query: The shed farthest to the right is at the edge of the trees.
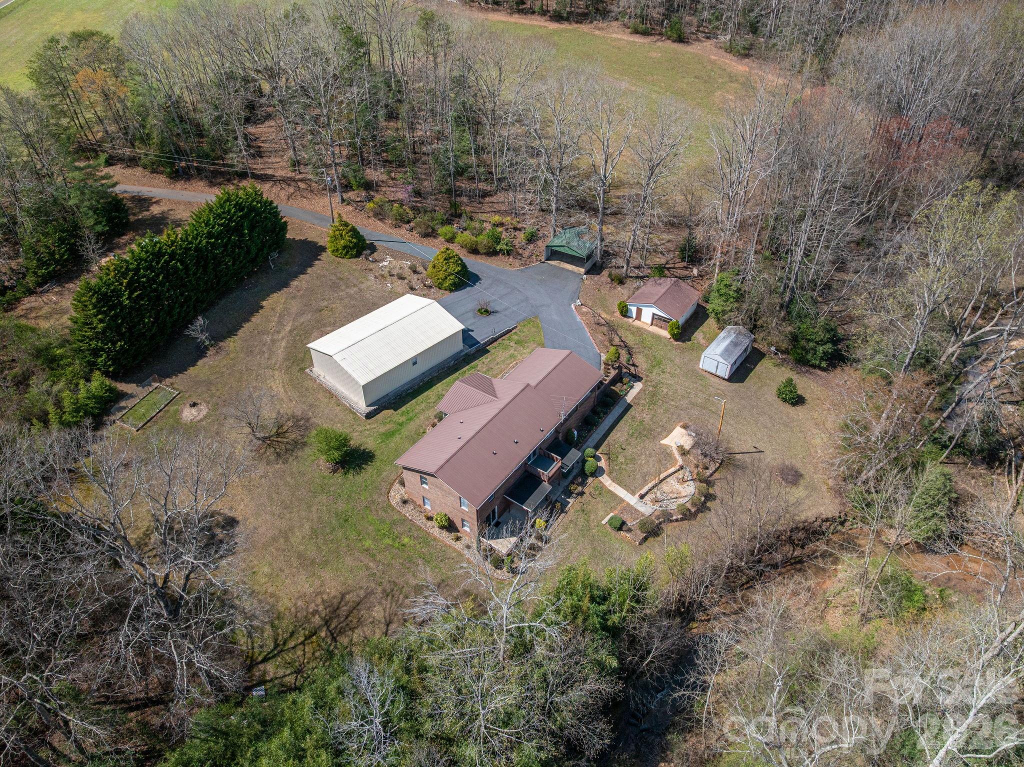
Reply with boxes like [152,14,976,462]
[699,325,755,378]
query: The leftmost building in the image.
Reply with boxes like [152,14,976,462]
[306,294,465,407]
